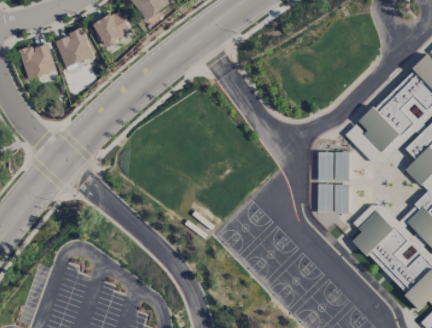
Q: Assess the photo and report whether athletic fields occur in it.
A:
Yes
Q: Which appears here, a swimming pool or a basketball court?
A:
basketball court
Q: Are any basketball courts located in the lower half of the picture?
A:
Yes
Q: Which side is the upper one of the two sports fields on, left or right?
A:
right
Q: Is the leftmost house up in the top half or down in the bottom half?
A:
top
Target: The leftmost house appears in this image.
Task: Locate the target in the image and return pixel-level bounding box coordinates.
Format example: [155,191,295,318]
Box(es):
[19,43,58,80]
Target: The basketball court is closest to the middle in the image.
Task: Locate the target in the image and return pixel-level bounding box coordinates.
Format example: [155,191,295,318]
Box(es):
[218,201,274,256]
